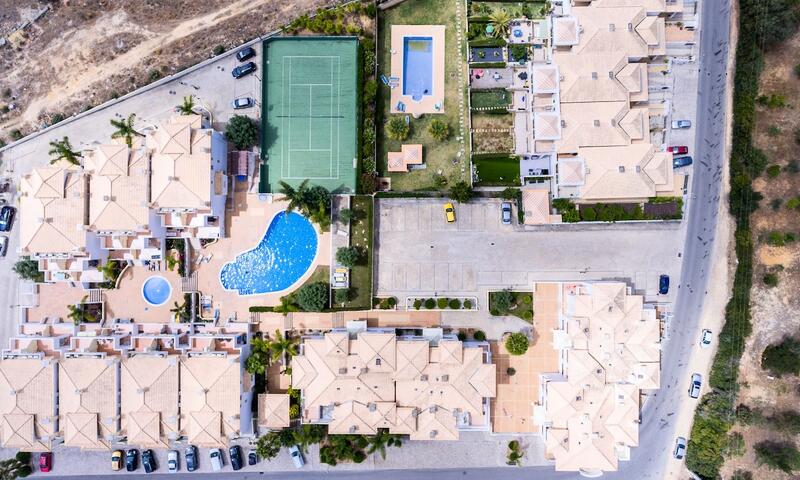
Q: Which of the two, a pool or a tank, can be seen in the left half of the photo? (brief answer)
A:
pool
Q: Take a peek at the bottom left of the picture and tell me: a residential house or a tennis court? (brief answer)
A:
residential house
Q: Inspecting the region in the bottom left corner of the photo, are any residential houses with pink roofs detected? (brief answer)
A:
No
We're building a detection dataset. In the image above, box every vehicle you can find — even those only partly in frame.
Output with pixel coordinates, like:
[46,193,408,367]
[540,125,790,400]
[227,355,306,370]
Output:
[687,373,702,399]
[670,120,690,129]
[290,446,305,469]
[232,62,256,79]
[184,446,198,471]
[673,156,692,167]
[0,206,16,230]
[658,274,670,294]
[229,446,242,471]
[167,450,179,471]
[237,47,256,61]
[247,449,258,466]
[112,449,123,470]
[0,235,9,256]
[127,447,139,469]
[666,145,687,155]
[40,452,52,471]
[445,202,455,223]
[501,202,511,224]
[209,450,223,471]
[141,450,157,473]
[673,435,687,459]
[233,97,254,109]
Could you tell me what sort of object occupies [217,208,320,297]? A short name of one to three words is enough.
swimming pool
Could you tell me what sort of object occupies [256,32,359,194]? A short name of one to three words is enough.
tennis court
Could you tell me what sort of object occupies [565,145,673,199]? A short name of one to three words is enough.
house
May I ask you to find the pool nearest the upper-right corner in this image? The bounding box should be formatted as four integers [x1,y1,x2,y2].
[390,25,445,118]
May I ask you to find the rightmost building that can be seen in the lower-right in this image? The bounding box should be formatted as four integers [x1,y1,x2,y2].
[529,282,660,480]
